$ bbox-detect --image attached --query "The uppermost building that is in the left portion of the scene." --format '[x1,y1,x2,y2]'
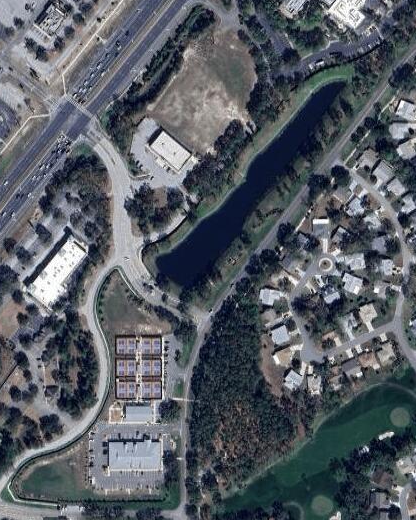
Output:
[36,4,64,33]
